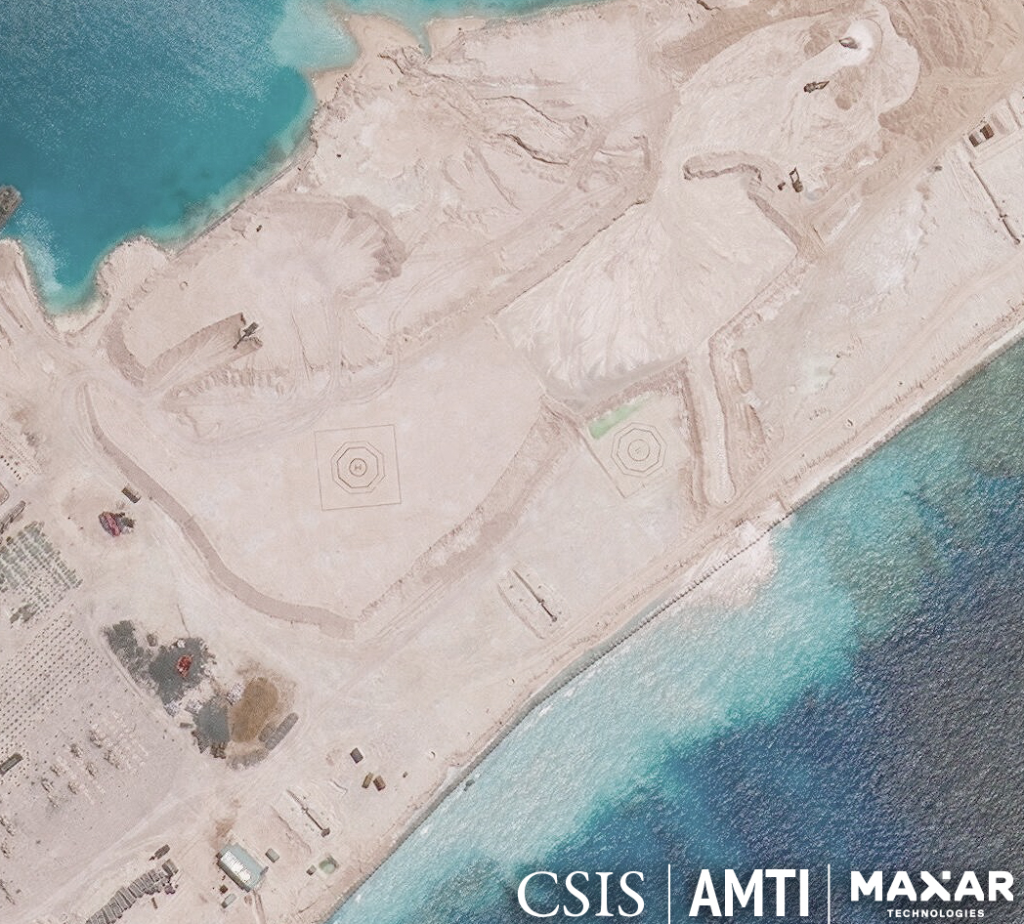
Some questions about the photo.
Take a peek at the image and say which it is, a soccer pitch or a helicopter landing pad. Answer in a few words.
helicopter landing pad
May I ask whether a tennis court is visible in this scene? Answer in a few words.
No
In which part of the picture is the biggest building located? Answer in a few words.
bottom left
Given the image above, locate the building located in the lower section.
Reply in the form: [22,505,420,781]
[220,845,270,888]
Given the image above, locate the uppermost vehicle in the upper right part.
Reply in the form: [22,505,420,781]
[839,38,859,51]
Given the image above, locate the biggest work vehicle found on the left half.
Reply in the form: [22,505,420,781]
[234,323,259,348]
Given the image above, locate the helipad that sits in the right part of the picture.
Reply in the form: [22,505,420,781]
[583,408,674,498]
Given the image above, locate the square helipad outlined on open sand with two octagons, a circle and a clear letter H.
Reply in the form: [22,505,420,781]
[314,425,401,511]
